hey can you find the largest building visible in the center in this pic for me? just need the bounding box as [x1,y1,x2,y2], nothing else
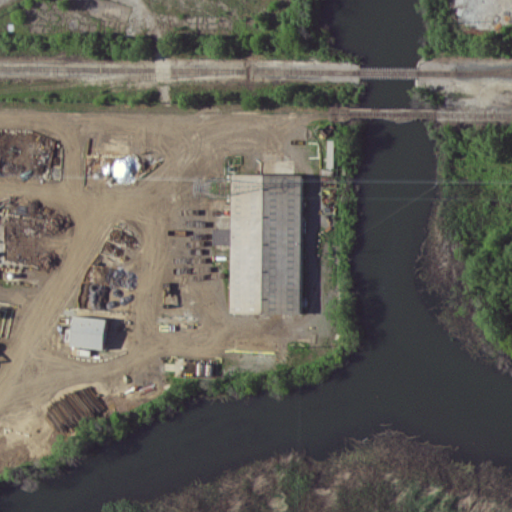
[212,175,304,315]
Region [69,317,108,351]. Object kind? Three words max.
shed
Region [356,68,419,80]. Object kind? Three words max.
bridge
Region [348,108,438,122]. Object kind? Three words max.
bridge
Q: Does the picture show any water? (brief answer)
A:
Yes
